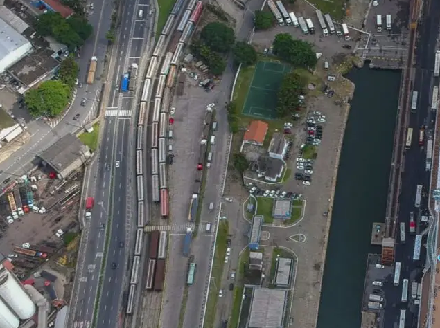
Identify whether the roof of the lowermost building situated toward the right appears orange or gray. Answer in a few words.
gray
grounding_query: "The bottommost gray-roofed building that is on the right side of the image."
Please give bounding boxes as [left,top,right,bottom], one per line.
[249,288,287,328]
